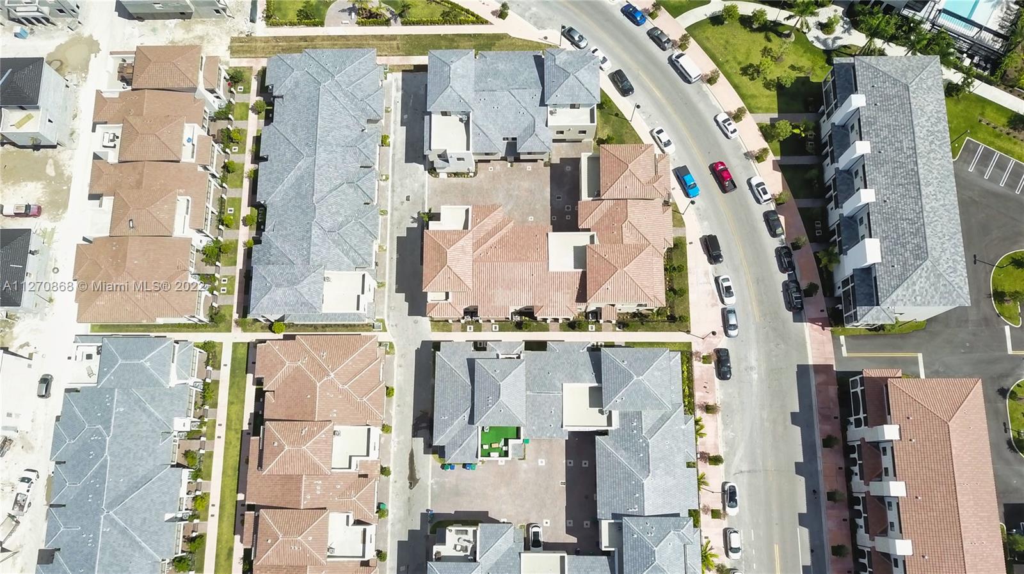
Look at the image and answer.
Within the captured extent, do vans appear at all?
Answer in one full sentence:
Yes, a van can be made out from above.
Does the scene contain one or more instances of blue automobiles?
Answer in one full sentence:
Yes, there's a blue automobile down there.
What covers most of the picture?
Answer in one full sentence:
The largest share of the image is taken up by buildings.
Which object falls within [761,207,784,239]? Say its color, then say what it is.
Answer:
black car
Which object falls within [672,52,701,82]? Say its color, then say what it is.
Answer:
white van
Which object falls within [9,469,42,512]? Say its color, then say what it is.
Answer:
white truck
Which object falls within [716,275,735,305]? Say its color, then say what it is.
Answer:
white car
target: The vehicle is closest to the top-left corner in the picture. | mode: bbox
[3,201,44,218]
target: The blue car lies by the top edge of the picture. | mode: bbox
[619,1,646,26]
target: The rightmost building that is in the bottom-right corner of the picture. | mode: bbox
[839,368,1007,574]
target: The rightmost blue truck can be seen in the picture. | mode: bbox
[673,164,700,200]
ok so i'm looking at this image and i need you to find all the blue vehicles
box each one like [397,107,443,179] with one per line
[673,164,700,200]
[619,1,646,26]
